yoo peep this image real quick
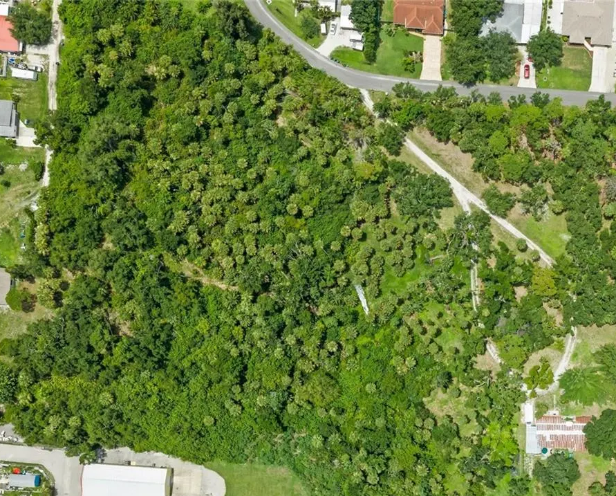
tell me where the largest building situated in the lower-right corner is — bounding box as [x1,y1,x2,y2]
[526,415,591,453]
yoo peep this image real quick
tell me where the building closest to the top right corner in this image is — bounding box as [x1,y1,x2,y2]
[562,0,614,49]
